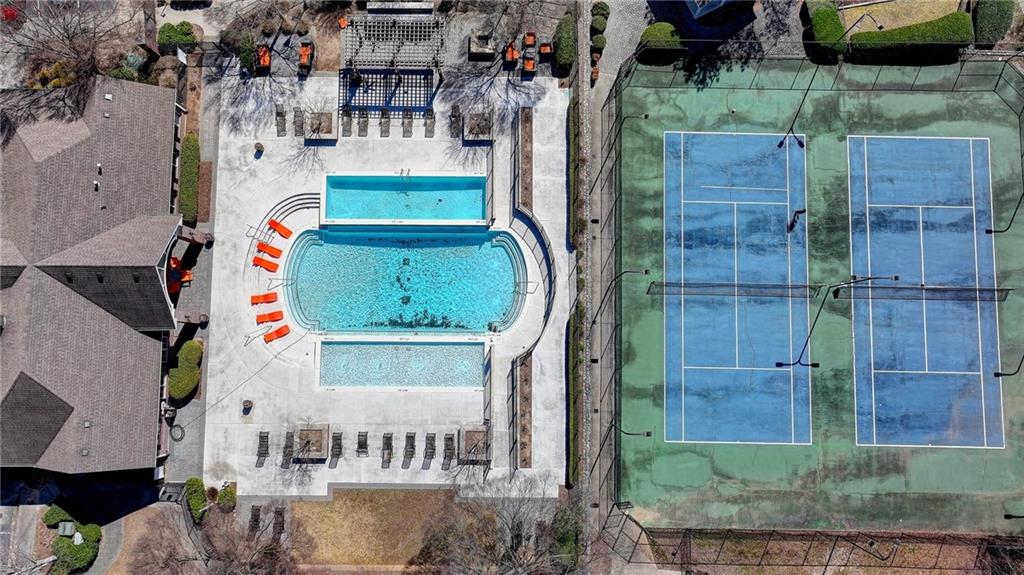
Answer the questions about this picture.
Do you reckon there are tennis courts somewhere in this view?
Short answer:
Yes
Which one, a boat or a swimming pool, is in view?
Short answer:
swimming pool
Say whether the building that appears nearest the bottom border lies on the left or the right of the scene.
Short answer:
left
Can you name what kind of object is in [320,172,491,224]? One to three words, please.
swimming pool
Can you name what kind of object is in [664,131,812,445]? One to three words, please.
tennis court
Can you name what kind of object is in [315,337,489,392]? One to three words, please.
swimming pool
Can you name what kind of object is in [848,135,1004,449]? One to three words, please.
tennis court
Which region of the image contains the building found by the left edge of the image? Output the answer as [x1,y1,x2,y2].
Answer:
[0,75,201,473]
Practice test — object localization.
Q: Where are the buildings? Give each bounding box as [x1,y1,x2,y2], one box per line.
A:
[683,0,732,20]
[0,75,201,473]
